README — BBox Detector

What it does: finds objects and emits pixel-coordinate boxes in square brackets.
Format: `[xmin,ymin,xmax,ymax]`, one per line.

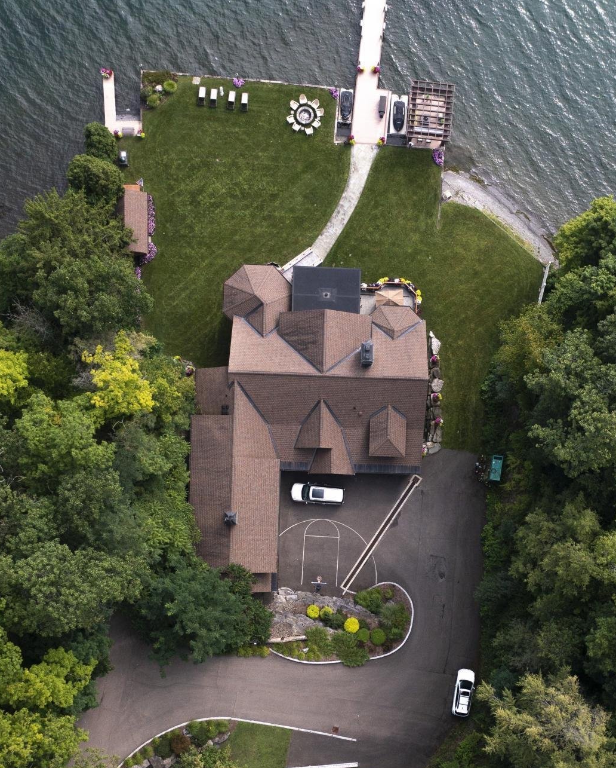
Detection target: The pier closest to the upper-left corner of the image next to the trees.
[103,71,141,136]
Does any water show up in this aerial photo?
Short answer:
Yes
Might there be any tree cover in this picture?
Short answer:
Yes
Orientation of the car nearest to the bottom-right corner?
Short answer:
vertically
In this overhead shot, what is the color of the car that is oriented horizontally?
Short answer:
white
